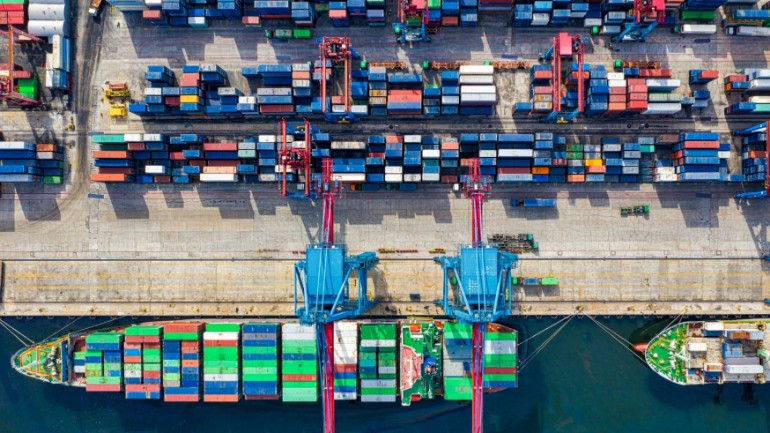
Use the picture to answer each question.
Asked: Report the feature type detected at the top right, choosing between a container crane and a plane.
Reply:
container crane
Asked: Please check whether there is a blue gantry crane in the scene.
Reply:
Yes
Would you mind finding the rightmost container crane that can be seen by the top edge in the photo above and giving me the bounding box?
[608,0,665,44]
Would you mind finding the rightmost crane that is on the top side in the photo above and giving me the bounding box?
[727,120,770,199]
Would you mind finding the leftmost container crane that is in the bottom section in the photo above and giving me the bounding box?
[289,153,380,433]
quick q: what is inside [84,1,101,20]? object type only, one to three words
vehicle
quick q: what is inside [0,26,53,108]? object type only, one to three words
container crane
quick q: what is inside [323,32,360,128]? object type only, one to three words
container crane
